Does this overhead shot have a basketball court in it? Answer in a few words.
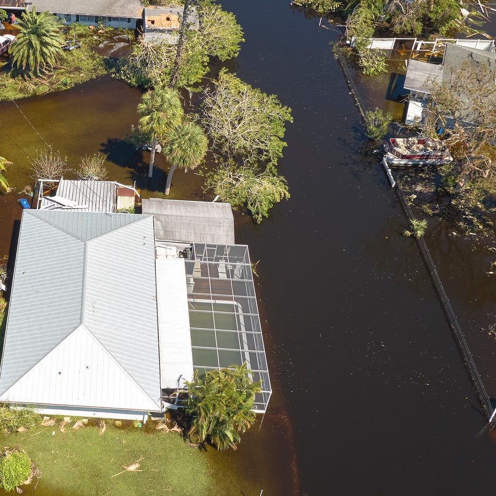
No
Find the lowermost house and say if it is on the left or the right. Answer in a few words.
left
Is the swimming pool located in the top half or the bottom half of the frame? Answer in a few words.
bottom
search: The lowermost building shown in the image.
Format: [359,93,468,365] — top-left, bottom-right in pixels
[0,209,194,434]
